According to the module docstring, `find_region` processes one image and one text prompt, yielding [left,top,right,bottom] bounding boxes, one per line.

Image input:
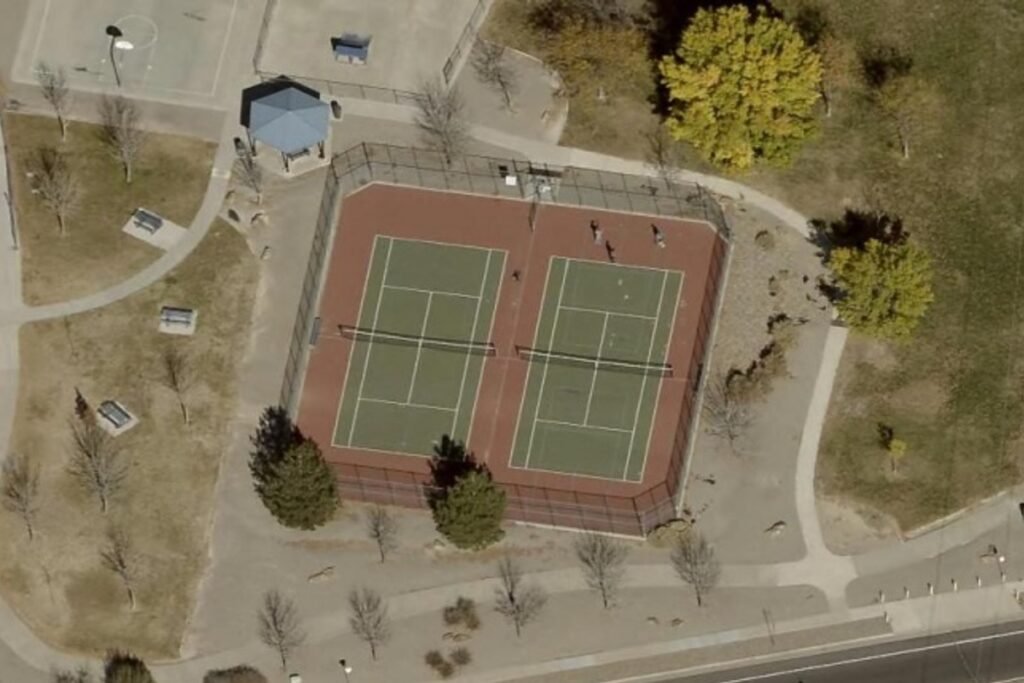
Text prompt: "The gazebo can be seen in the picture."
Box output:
[252,87,330,173]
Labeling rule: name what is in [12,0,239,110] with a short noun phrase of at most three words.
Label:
basketball court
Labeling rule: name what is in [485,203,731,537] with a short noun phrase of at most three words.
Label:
tennis court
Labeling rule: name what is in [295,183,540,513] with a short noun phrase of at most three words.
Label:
tennis court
